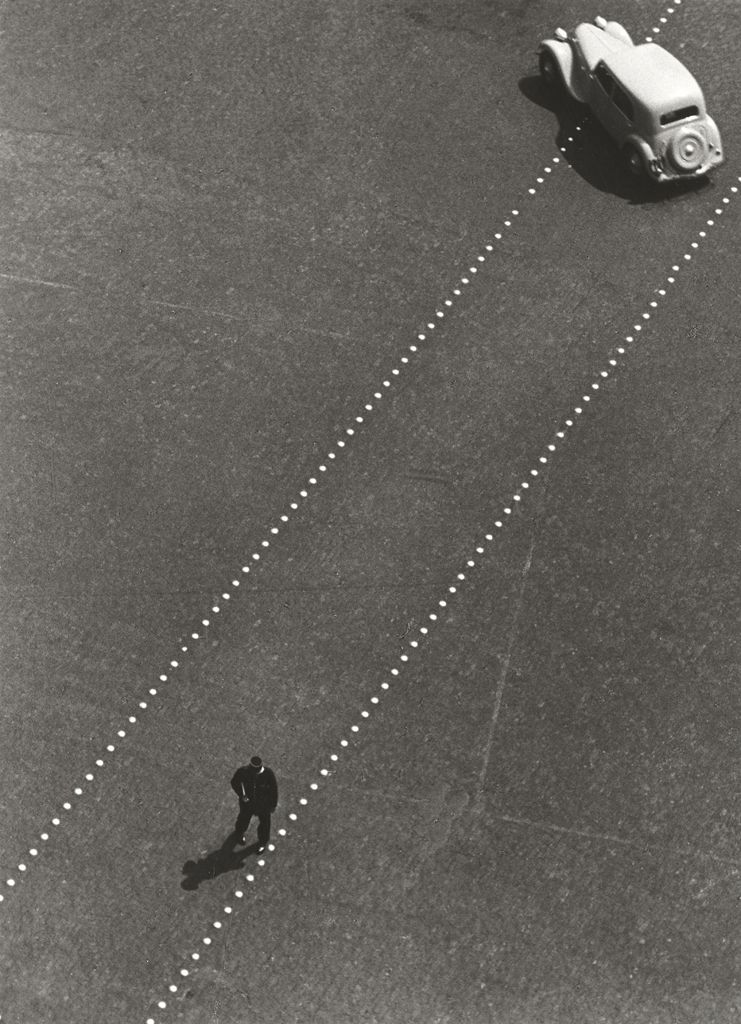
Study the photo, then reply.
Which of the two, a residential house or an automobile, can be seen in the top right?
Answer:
automobile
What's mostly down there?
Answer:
paved ground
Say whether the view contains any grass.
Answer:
No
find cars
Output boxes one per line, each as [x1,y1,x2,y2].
[537,14,724,184]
